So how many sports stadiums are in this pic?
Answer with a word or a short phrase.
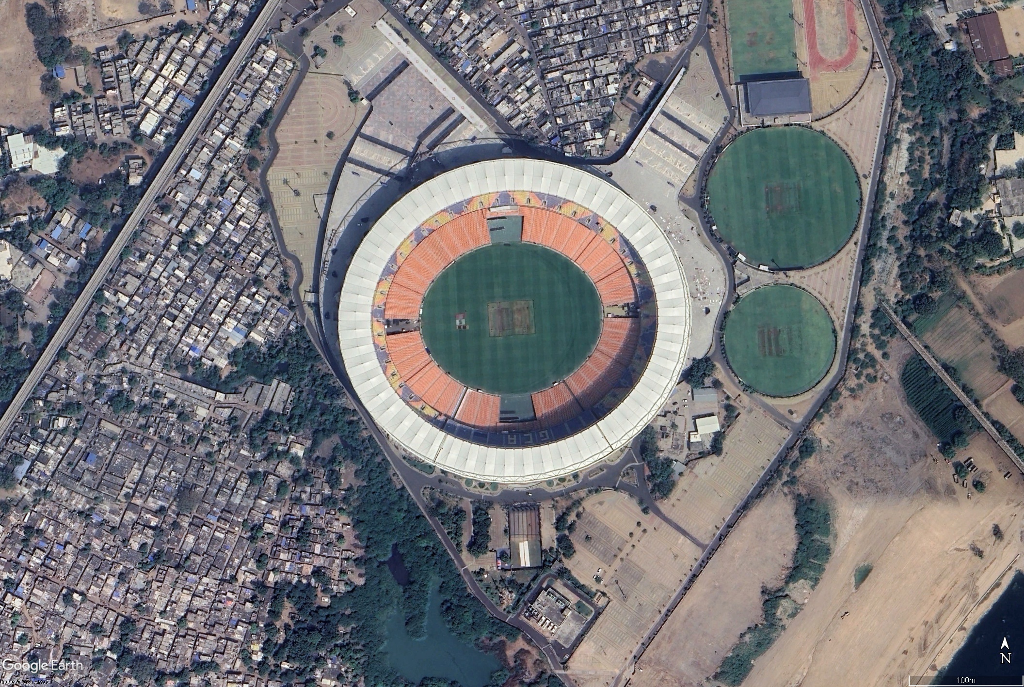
1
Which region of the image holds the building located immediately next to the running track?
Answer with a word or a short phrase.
top right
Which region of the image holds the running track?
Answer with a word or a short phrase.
top right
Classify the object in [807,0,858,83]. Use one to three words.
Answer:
running track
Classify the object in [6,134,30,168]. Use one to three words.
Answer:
building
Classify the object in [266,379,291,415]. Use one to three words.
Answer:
shed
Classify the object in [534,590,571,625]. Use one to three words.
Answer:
building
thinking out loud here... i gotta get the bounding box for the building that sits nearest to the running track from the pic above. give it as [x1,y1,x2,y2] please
[736,78,812,126]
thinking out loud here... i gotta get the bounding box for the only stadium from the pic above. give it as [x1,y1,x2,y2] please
[339,158,692,485]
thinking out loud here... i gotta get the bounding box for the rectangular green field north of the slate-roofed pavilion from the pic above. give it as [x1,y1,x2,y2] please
[728,0,801,83]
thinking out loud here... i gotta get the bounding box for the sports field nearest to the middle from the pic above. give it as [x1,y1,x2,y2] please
[422,242,603,394]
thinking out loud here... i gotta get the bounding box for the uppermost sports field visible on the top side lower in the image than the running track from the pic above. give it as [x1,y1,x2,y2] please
[704,126,863,270]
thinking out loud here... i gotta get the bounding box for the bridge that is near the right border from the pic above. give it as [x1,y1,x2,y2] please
[876,294,1024,476]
